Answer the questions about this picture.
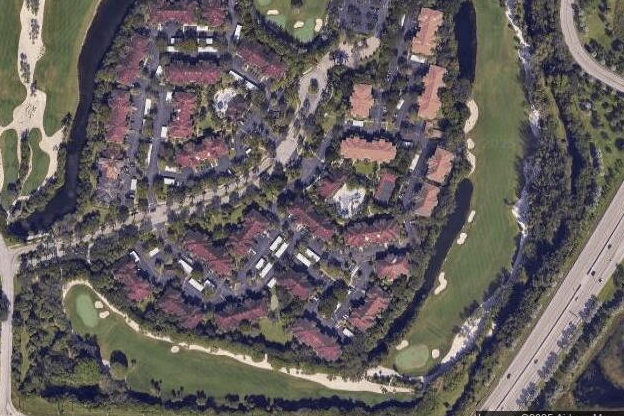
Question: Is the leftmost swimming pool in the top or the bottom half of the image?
top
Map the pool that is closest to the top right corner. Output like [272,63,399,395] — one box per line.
[333,184,366,219]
